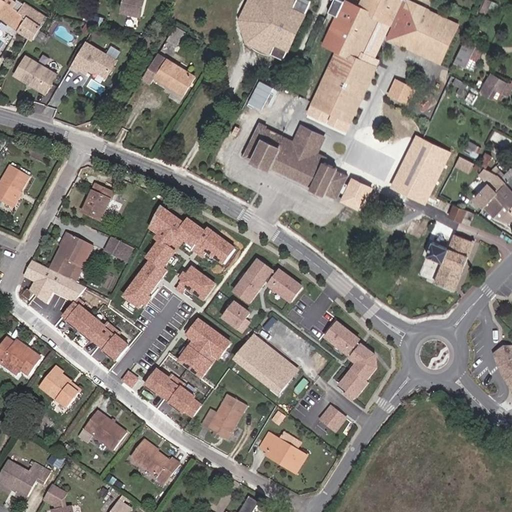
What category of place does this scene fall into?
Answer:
residential area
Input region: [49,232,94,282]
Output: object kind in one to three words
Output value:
house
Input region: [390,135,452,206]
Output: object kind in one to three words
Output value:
building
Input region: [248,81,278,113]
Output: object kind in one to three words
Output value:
shed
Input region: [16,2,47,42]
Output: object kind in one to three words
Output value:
house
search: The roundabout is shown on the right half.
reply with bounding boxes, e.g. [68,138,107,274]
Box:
[403,324,466,386]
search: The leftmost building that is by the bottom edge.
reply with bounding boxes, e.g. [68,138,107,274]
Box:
[0,458,51,499]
